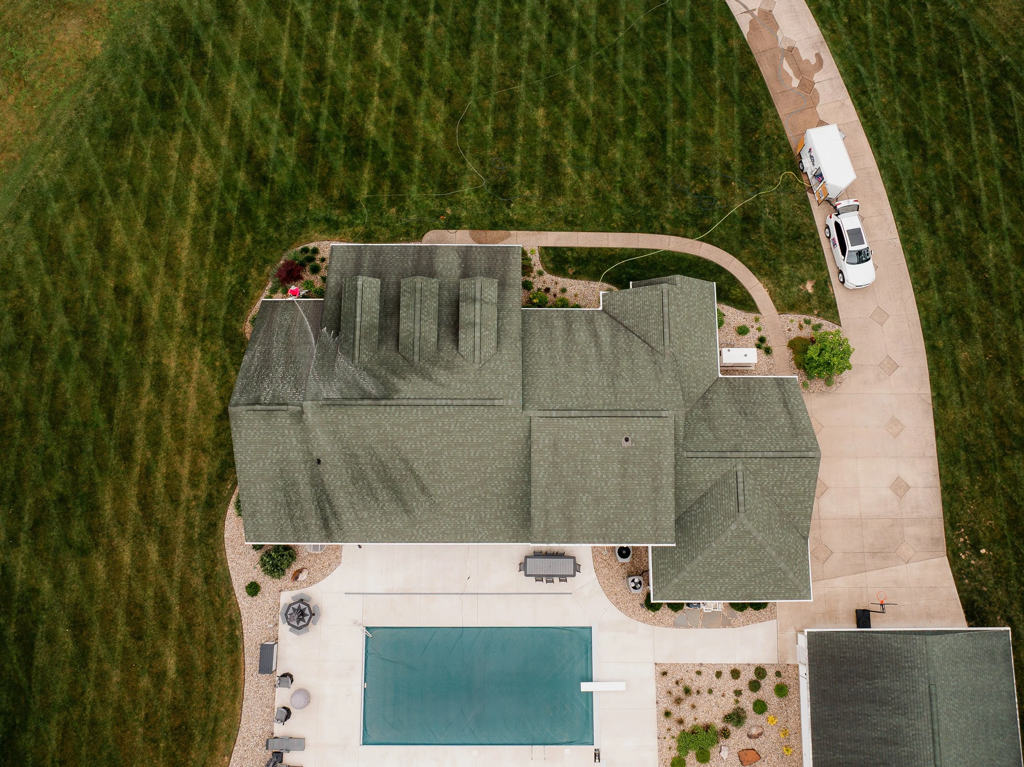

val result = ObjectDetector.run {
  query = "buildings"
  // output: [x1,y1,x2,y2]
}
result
[794,627,1024,767]
[229,242,822,604]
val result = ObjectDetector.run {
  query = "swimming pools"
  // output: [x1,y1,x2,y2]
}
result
[358,622,601,749]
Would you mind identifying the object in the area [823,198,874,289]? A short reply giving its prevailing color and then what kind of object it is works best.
white car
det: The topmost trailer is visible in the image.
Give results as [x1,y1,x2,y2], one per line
[795,122,857,216]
